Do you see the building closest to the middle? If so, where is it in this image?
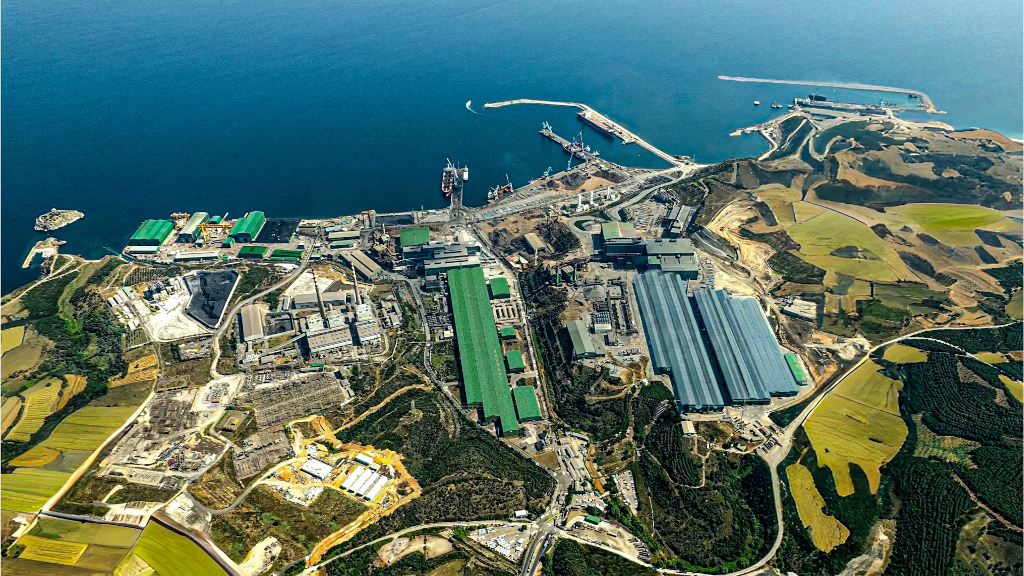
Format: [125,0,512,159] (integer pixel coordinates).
[489,277,511,300]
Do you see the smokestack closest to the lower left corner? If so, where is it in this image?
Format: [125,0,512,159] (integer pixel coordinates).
[307,260,326,319]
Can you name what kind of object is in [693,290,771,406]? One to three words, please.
building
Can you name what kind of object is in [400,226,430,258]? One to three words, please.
building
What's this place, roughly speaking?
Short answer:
port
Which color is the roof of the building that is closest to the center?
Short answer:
green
